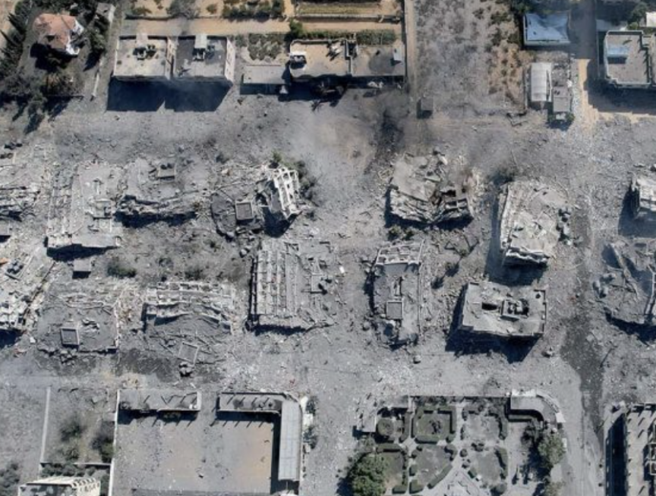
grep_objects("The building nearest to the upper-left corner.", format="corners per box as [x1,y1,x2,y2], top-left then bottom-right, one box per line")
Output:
[34,13,89,59]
